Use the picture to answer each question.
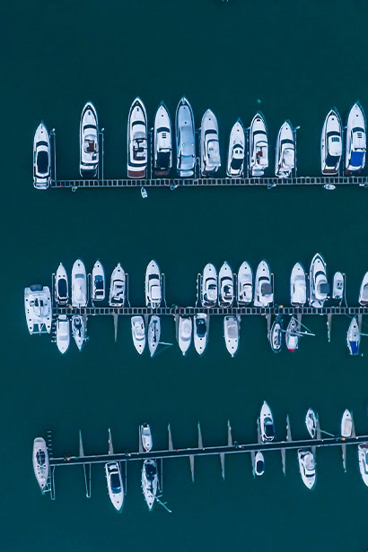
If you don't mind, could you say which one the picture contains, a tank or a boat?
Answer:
boat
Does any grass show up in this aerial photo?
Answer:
No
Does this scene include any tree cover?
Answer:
No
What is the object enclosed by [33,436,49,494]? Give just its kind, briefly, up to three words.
boat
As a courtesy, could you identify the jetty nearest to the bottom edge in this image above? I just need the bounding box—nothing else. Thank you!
[49,412,368,499]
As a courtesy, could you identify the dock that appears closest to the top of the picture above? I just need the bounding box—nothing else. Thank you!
[50,124,368,187]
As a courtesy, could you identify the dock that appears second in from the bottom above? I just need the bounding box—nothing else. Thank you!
[50,273,368,342]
